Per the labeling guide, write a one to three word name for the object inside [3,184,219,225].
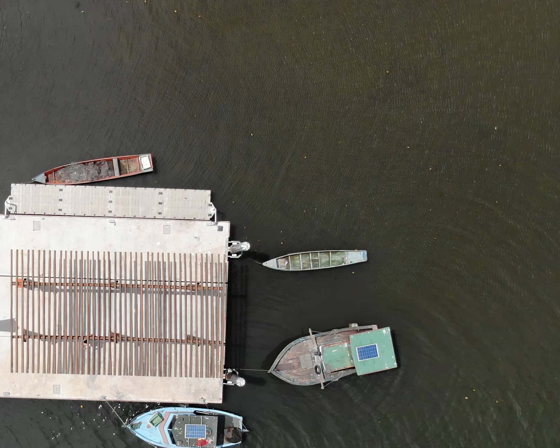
pier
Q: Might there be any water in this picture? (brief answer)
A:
Yes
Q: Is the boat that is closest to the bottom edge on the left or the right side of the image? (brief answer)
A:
left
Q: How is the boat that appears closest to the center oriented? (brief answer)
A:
horizontally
